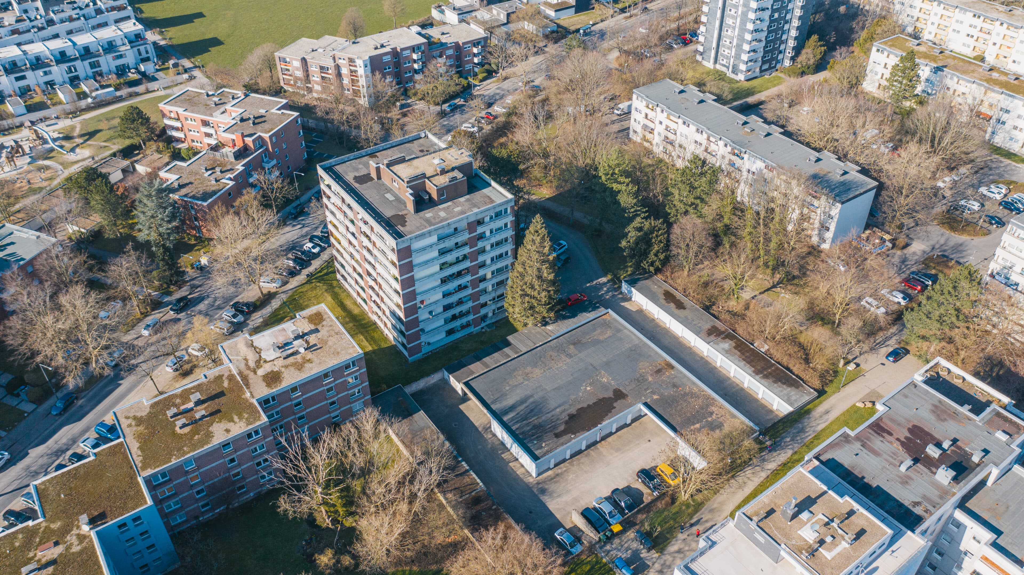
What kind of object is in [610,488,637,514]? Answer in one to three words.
car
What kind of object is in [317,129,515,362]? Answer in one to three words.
building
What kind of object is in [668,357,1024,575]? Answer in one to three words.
building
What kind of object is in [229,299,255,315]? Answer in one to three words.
car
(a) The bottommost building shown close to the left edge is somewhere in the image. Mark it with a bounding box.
[0,303,371,575]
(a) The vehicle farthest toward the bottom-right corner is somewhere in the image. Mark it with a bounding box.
[885,346,909,362]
